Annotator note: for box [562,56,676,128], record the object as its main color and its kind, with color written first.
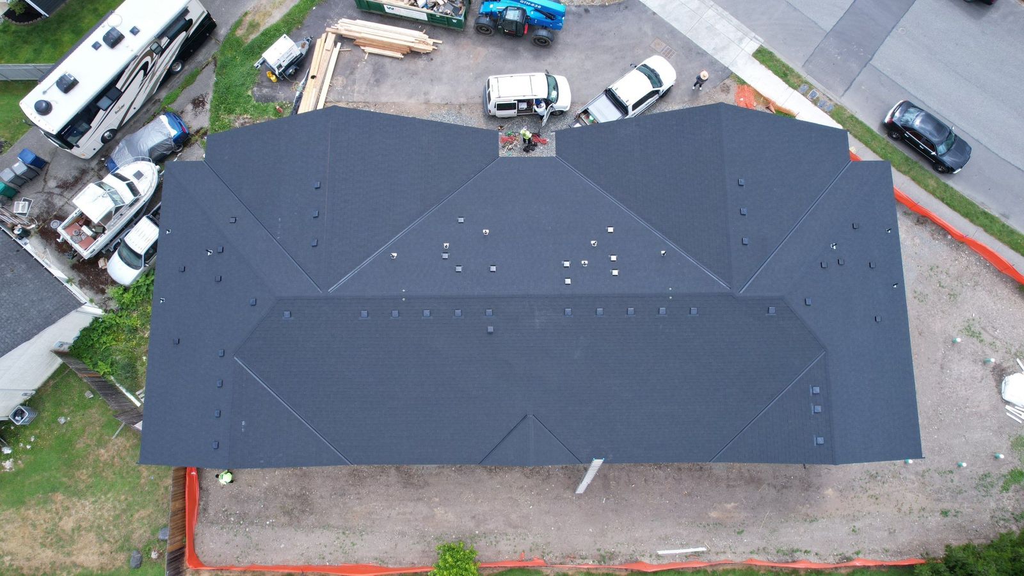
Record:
white truck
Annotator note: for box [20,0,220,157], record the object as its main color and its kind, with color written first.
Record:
white camper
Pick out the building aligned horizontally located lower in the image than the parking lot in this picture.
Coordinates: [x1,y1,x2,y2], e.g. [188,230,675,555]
[139,102,922,468]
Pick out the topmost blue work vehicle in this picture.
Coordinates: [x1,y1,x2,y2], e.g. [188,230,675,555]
[461,0,567,48]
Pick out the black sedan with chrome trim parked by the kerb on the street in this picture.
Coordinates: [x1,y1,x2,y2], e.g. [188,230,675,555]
[882,98,976,177]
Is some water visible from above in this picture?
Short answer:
No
